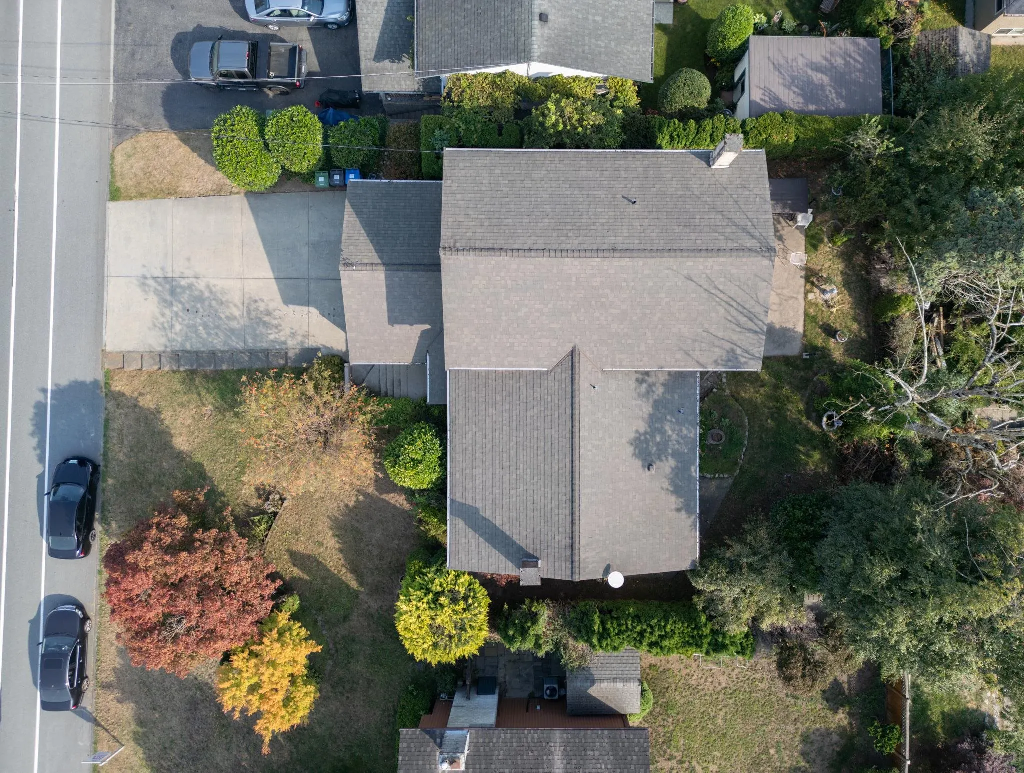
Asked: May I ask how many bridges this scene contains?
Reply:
0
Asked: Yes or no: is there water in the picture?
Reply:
No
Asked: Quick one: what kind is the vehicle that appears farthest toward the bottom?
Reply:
car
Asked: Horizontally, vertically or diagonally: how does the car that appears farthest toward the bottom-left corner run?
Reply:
vertically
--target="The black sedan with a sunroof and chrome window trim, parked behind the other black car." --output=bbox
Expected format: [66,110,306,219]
[36,604,92,714]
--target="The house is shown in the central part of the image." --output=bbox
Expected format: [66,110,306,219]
[340,133,776,585]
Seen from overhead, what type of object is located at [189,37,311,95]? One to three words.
truck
